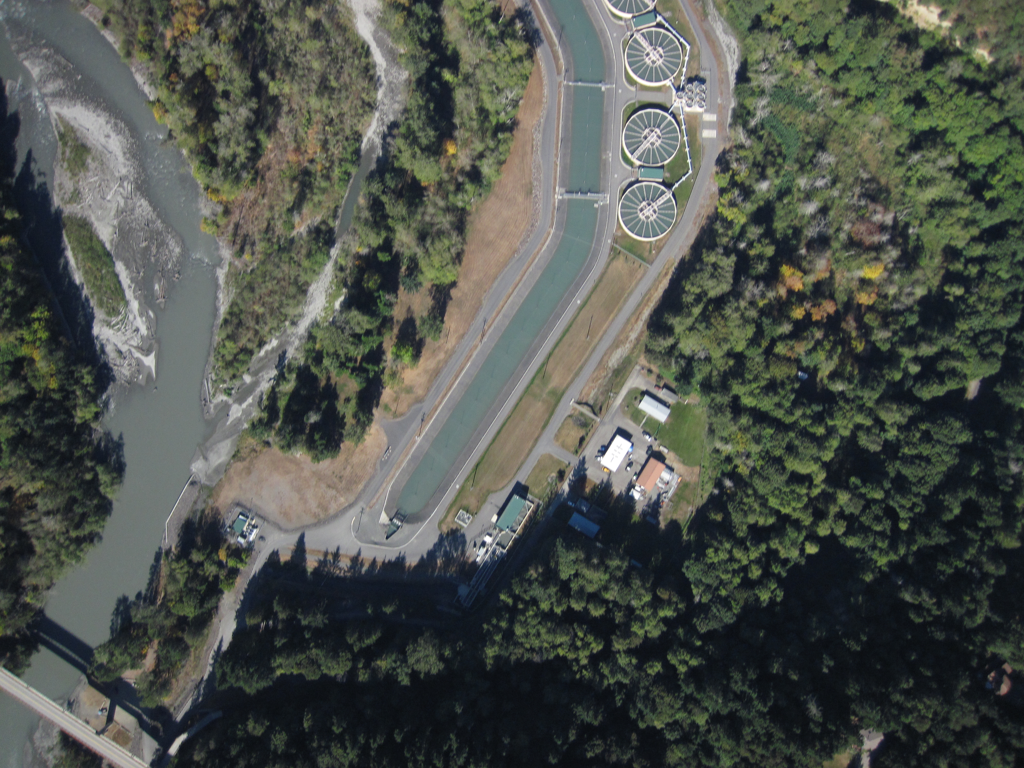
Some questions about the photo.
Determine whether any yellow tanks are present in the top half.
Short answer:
No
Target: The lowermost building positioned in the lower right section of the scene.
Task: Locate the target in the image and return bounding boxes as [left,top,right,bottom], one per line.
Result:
[857,723,881,741]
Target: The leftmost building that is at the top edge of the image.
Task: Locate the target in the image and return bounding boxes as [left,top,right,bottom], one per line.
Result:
[631,11,656,32]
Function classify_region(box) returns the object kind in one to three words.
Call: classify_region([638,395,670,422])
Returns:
house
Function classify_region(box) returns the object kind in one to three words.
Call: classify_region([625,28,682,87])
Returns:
storage tank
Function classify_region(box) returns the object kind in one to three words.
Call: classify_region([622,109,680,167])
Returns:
storage tank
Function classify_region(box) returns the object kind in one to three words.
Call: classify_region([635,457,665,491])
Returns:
building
